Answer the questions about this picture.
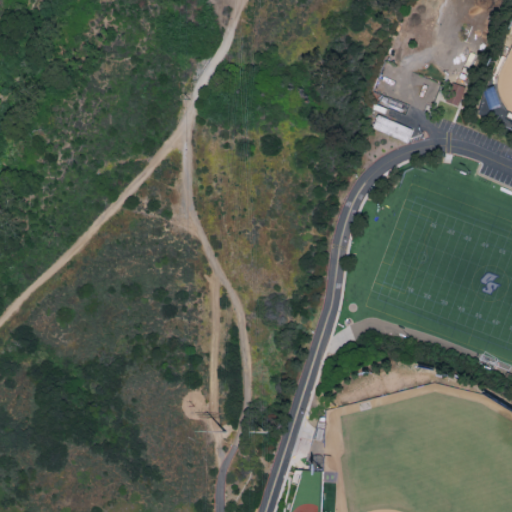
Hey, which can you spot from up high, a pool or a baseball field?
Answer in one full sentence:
This aerial view contains a baseball field.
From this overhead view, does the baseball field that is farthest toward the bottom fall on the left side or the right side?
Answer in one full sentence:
The baseball field that is farthest toward the bottom appears in the right half of the scene.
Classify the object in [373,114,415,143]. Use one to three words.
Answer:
building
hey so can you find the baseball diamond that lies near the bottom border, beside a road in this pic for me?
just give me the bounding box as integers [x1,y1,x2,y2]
[324,383,512,512]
